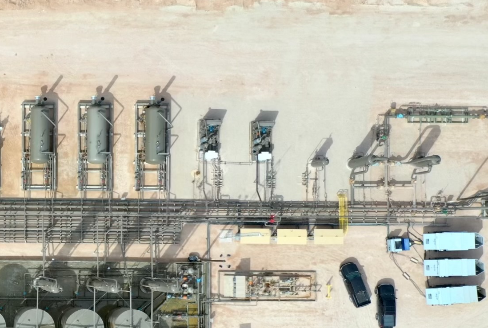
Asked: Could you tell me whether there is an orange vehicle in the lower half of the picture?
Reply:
No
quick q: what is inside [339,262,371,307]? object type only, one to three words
truck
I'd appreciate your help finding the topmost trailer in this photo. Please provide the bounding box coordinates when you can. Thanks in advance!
[425,232,483,251]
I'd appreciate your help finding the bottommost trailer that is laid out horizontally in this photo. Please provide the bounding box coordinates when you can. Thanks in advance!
[427,285,487,305]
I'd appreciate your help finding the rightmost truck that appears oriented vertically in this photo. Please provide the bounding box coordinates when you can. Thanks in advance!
[375,281,396,328]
